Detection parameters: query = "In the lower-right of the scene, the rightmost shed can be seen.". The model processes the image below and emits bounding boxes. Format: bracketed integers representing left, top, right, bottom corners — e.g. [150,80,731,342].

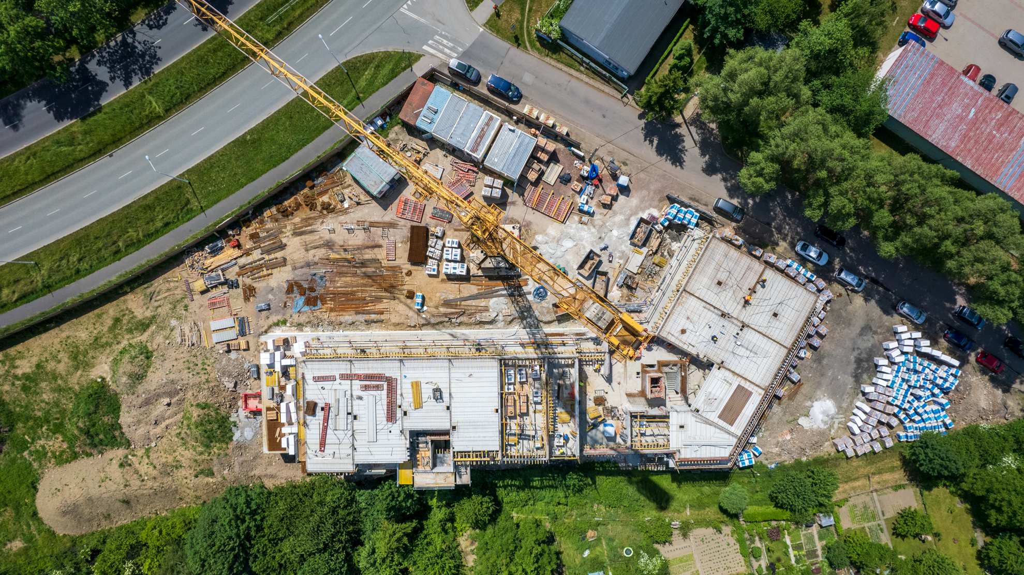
[818,513,840,533]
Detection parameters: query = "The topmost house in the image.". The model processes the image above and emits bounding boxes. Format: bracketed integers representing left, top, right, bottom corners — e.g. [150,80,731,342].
[559,0,682,81]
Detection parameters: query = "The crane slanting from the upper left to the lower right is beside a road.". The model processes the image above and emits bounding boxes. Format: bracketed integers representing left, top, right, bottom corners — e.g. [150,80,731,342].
[180,0,662,372]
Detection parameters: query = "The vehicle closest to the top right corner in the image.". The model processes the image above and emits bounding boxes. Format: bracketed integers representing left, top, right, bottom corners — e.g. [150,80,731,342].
[992,27,1024,56]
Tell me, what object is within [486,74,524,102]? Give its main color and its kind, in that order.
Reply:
blue car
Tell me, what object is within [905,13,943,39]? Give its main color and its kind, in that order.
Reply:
red car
